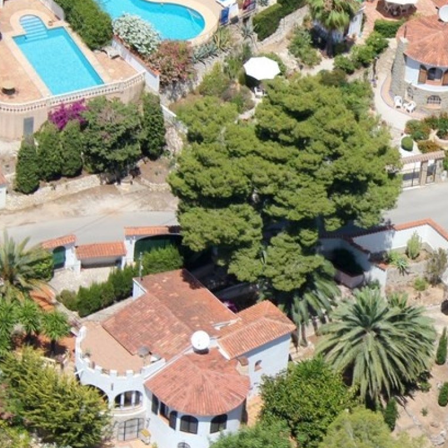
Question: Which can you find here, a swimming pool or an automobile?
swimming pool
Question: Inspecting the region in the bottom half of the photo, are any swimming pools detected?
No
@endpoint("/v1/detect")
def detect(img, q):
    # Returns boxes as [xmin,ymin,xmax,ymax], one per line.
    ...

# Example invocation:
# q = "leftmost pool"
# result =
[1,10,114,99]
